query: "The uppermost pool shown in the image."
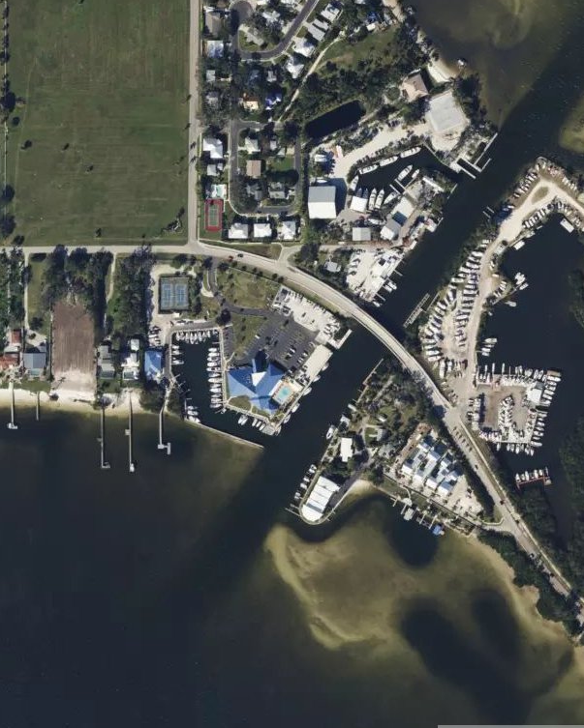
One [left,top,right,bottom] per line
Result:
[212,184,227,197]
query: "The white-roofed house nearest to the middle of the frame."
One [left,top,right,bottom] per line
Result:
[304,347,331,380]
